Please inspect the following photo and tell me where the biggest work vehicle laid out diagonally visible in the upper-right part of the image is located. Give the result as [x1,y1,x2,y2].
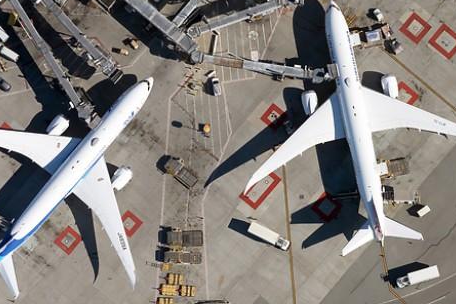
[384,40,404,56]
